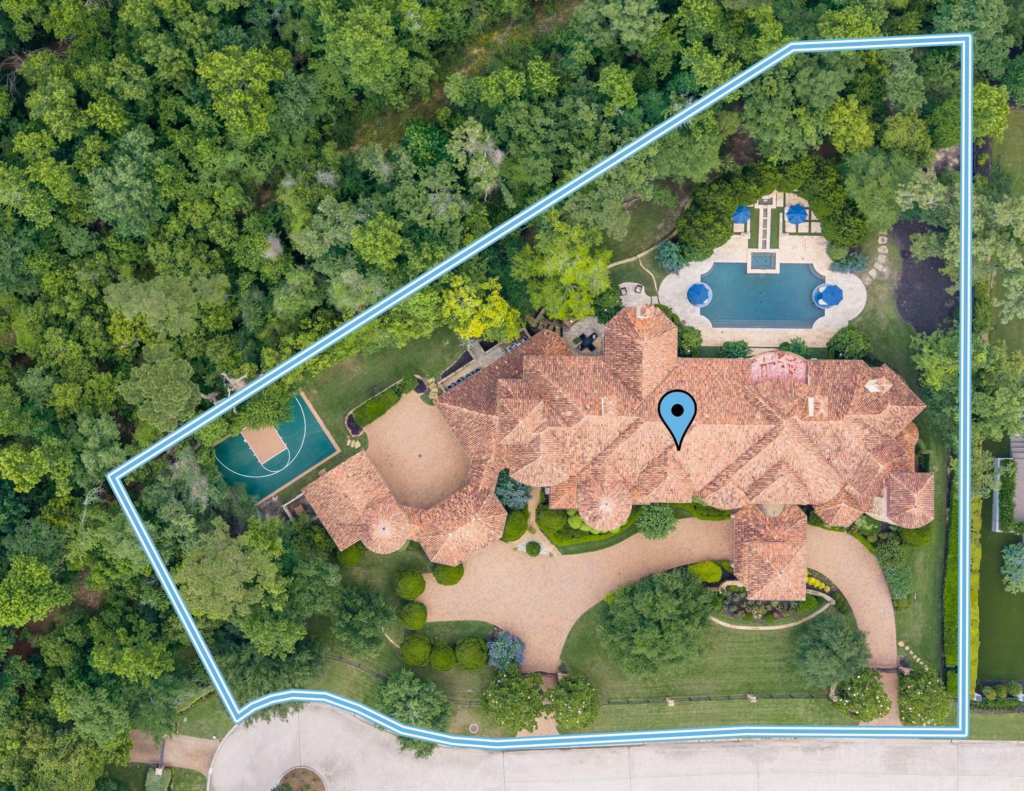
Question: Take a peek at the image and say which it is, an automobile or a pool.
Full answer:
The image shows a pool.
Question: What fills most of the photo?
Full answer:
The scene is dominated by trees.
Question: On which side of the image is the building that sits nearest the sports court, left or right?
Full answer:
The building that sits nearest the sports court is on the left side of the image.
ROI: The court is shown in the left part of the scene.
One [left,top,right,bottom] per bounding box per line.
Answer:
[220,391,340,505]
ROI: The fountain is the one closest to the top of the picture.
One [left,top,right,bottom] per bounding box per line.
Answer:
[754,191,776,209]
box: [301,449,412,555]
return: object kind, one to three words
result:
building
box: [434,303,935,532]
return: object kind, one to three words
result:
house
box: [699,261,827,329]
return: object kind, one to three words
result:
swimming pool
